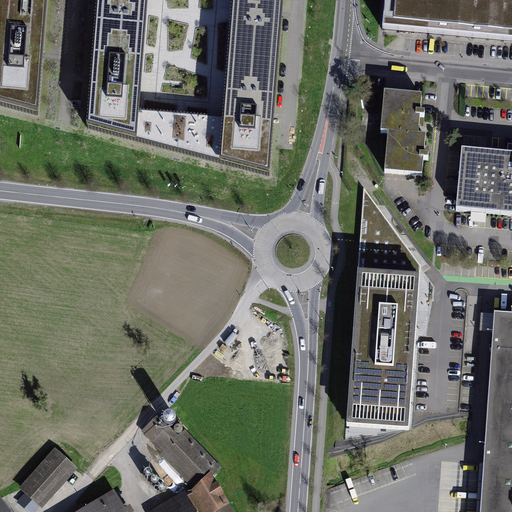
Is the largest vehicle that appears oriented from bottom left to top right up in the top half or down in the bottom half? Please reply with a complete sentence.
The largest vehicle that appears oriented from bottom left to top right sits in the bottom half of the picture.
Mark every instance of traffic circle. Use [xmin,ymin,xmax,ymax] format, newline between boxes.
[254,213,332,290]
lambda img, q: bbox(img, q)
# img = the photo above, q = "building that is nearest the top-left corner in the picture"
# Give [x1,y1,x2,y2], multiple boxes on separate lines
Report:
[0,0,49,114]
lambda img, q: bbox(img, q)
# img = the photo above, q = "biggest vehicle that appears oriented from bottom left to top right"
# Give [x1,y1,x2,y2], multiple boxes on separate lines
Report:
[220,328,240,348]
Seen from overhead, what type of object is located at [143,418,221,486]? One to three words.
barn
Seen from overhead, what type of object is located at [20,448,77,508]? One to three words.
barn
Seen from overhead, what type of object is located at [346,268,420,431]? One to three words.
building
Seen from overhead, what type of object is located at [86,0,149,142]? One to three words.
building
